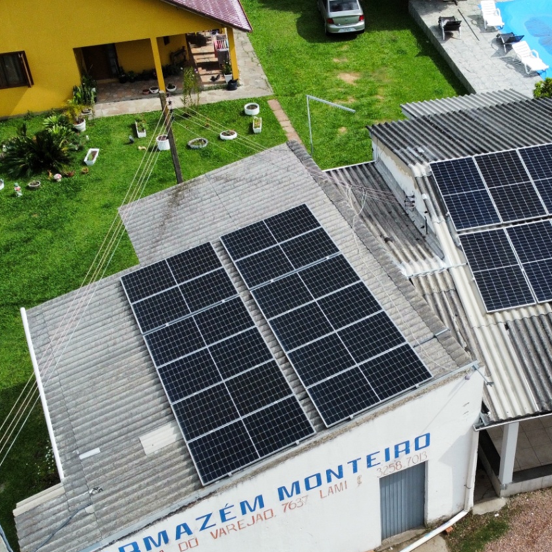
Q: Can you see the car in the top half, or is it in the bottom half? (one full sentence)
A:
Seen from above, the car lies in the top half of the view.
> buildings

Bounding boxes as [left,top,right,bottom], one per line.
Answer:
[11,133,512,552]
[0,0,271,119]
